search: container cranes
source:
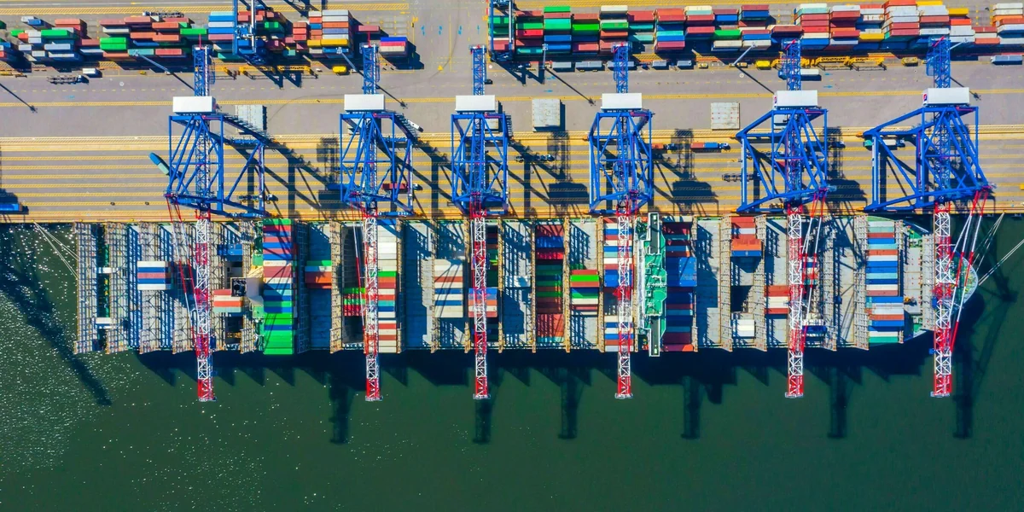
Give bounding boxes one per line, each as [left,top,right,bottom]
[449,40,519,403]
[575,38,658,401]
[339,43,426,403]
[231,0,275,57]
[848,33,1001,400]
[159,44,282,404]
[489,0,518,58]
[722,35,838,401]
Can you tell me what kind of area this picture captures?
port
